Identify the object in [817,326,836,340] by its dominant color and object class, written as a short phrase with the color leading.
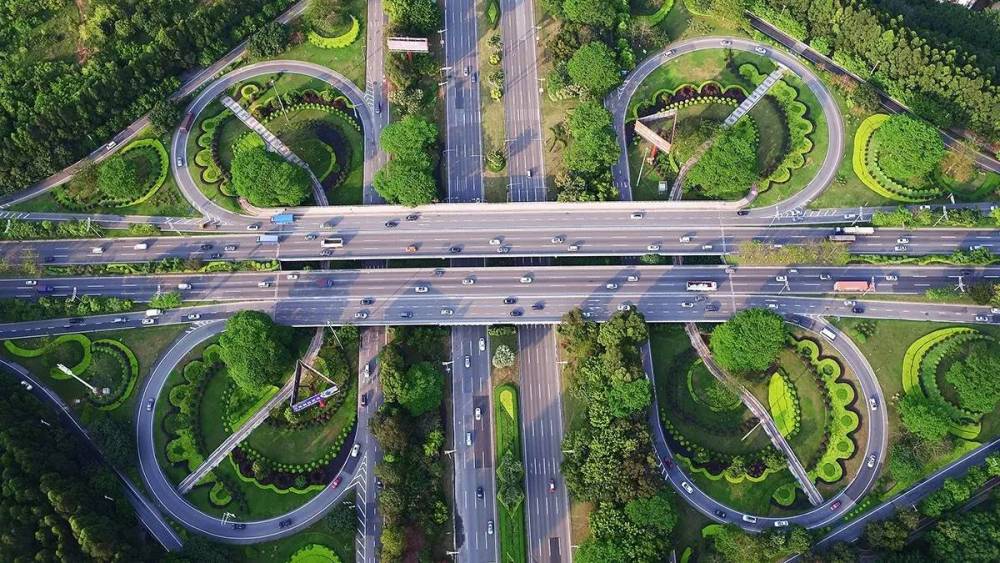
white vehicle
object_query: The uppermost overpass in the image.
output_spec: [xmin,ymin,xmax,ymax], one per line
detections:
[277,198,730,261]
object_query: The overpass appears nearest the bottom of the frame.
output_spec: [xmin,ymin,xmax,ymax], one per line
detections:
[273,266,738,326]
